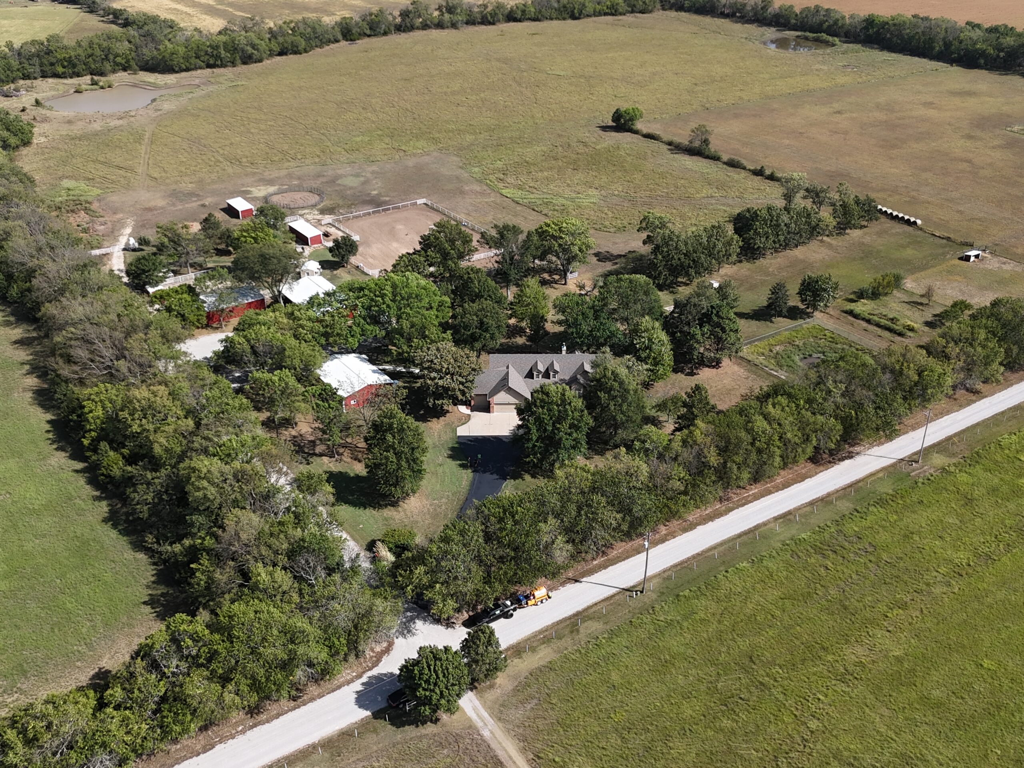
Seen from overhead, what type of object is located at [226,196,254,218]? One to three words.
shed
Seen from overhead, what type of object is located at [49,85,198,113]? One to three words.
pond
